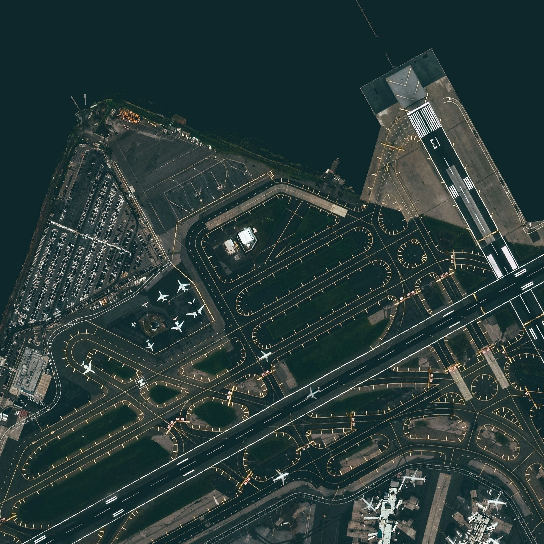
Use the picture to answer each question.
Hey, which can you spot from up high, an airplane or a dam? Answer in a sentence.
Visible in the photo is an airplane.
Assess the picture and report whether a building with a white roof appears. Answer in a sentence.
Yes, a building with a white roof appears in the view.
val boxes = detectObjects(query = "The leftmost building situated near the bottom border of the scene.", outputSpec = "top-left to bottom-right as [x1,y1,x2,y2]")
[364,477,405,544]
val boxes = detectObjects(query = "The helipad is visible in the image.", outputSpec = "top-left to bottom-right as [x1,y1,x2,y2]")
[135,376,147,389]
